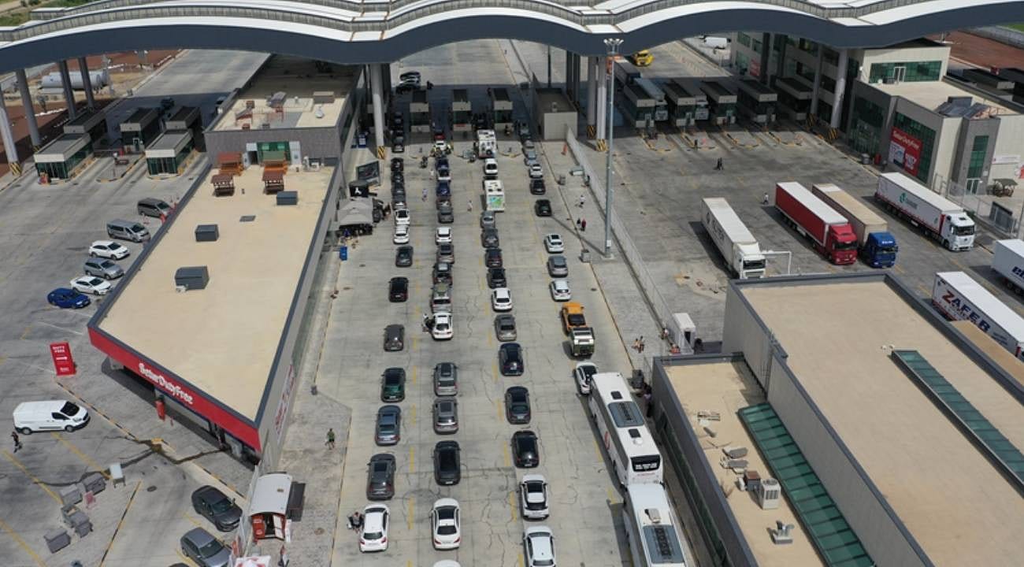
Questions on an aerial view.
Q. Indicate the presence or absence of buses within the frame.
Yes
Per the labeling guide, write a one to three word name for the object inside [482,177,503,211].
camper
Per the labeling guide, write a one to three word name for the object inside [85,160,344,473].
building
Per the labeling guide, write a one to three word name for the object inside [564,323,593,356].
car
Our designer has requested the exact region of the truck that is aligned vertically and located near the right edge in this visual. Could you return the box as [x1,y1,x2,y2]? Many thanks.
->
[999,241,1024,297]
